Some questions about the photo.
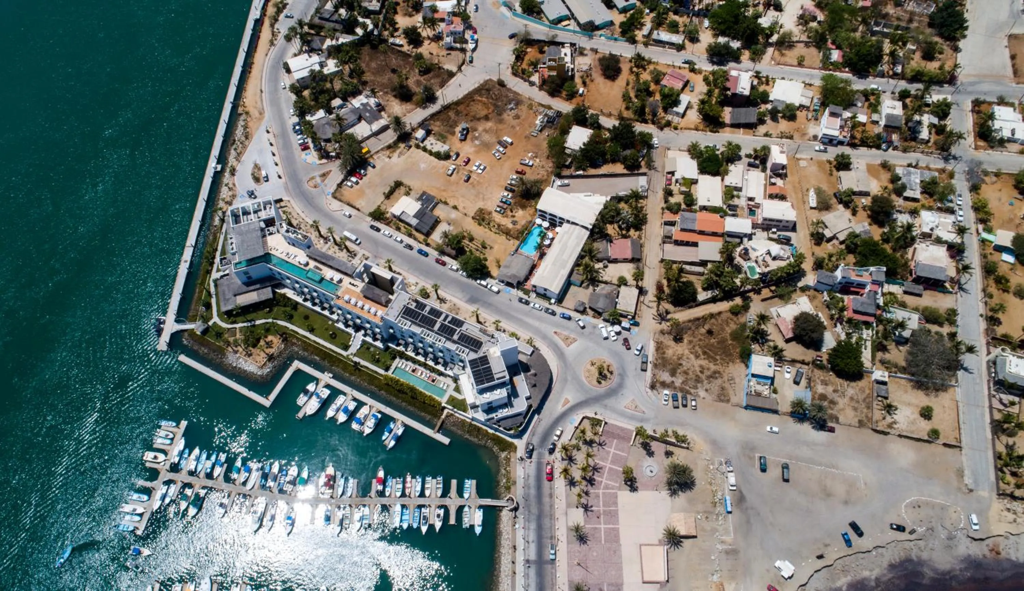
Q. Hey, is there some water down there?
Yes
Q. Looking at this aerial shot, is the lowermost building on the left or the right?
right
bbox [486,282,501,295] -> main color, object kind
white vehicle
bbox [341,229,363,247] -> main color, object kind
white vehicle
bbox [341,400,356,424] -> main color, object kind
white boat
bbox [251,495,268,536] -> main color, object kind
white boat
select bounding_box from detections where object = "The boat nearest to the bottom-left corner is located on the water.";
[54,546,73,568]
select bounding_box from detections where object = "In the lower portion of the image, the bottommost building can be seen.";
[667,512,697,537]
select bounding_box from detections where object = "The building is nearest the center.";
[496,252,535,289]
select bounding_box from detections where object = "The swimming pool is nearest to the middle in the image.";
[520,225,545,255]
